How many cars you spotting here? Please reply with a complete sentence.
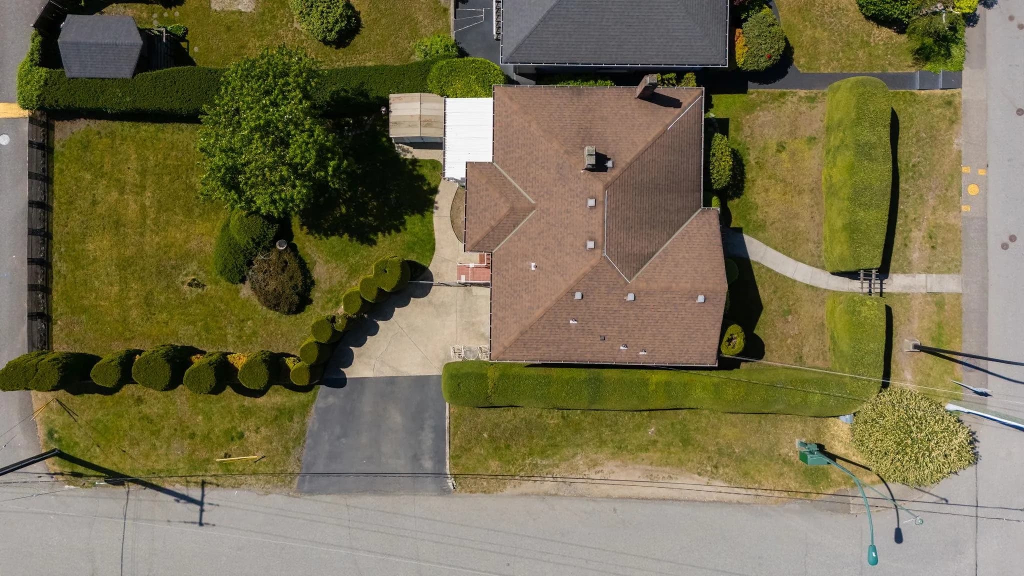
The count of cars is 0.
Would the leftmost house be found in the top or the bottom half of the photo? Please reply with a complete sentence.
Seen from above, the leftmost house lies in the top half of the view.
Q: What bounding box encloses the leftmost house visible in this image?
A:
[57,14,151,78]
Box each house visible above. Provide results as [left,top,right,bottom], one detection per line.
[57,14,151,78]
[462,72,731,365]
[498,0,731,71]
